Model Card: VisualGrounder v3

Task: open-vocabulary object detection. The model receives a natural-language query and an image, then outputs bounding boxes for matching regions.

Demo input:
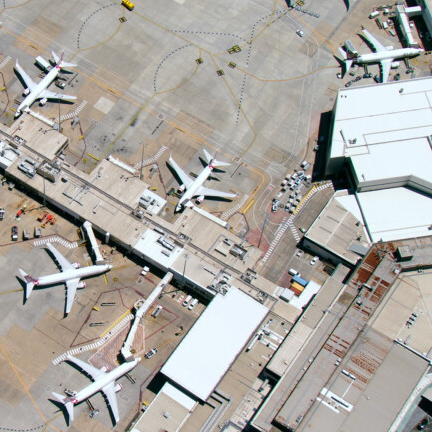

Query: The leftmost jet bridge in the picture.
[19,103,60,133]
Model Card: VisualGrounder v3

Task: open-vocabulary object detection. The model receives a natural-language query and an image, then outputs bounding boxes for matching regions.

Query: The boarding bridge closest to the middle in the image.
[178,196,230,230]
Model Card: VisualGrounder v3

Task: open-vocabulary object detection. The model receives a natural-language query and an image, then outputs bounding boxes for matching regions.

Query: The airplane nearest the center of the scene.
[170,149,237,212]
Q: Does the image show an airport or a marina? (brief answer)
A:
airport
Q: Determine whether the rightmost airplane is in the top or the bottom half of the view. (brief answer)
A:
top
